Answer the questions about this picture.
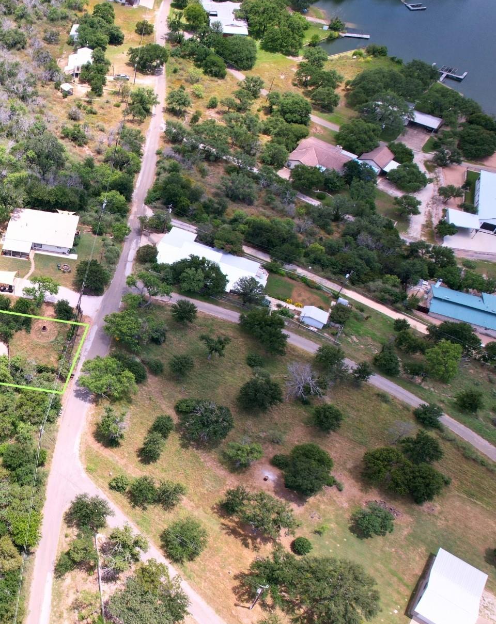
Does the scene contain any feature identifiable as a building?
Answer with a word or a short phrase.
Yes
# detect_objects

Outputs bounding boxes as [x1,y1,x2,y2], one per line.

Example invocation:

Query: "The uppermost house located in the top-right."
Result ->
[378,103,444,135]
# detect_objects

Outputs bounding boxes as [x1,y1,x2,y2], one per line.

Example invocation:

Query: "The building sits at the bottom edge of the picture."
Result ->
[410,549,489,624]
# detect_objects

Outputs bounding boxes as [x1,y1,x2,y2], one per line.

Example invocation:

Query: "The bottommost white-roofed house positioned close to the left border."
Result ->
[0,209,81,261]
